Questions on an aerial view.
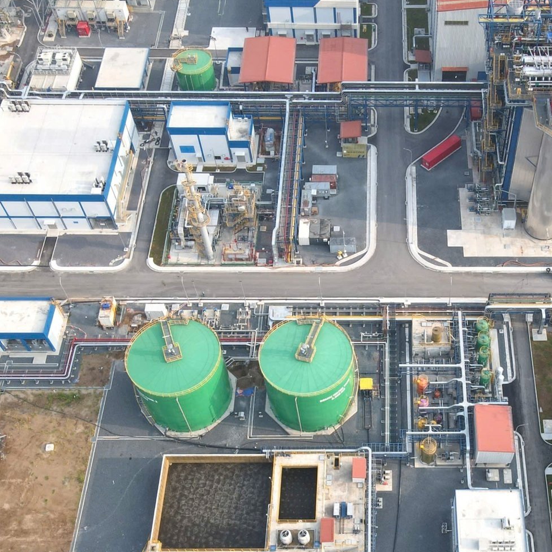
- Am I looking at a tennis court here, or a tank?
tank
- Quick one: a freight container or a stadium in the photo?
freight container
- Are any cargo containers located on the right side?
Yes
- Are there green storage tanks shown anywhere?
Yes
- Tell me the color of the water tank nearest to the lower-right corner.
green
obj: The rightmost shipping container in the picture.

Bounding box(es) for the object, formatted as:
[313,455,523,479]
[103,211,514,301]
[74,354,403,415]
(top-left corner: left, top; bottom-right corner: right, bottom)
[421,134,462,171]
